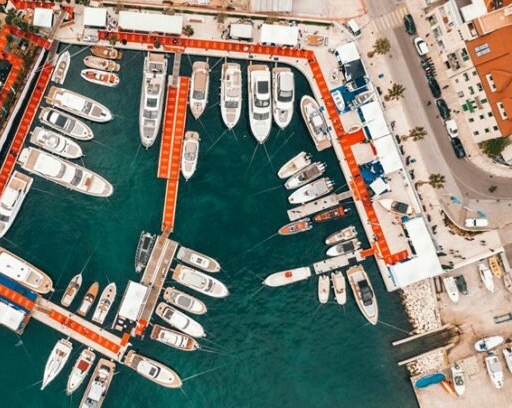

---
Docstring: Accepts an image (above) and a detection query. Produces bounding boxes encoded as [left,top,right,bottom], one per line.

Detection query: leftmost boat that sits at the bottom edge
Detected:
[34,333,71,394]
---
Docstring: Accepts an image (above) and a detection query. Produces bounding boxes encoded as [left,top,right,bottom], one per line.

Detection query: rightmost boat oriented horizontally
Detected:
[472,336,505,351]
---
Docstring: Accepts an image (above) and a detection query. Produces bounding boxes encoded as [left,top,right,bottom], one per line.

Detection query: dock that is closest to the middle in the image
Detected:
[287,196,341,222]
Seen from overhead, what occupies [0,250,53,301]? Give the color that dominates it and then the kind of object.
white boat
